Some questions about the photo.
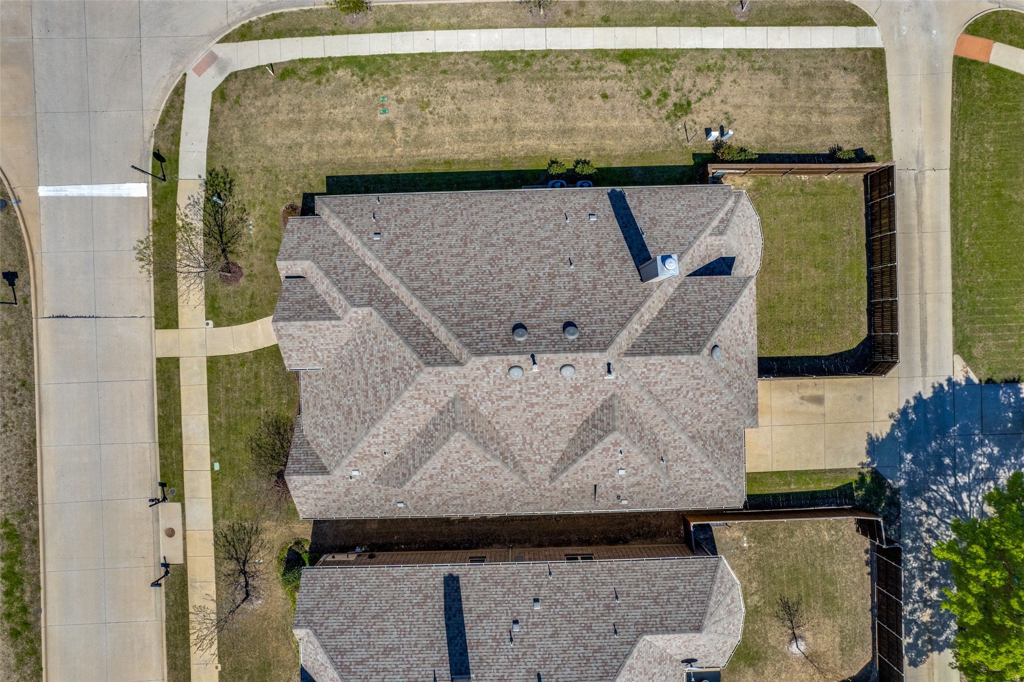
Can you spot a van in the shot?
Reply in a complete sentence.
No, no van is visible in the scene.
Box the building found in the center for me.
[272,185,765,522]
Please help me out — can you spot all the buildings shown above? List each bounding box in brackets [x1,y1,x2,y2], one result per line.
[280,543,747,682]
[272,185,765,522]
